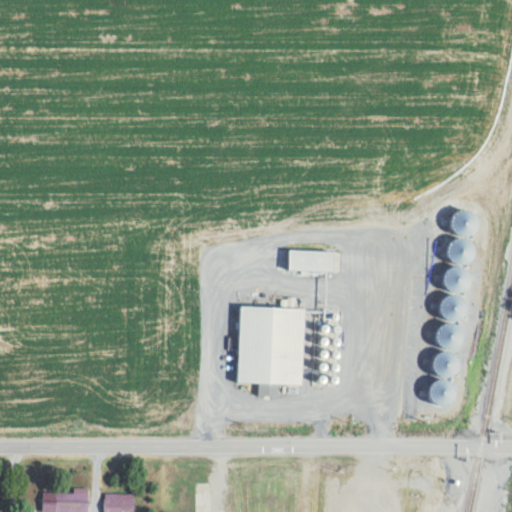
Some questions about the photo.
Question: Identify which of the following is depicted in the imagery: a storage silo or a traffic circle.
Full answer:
Visible in the photo is a storage silo.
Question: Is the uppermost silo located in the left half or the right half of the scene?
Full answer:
The uppermost silo is on the right side of the image.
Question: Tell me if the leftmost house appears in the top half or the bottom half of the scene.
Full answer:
It is in the bottom half that the leftmost house appears.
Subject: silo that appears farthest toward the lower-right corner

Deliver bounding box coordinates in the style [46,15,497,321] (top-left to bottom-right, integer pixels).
[430,378,458,407]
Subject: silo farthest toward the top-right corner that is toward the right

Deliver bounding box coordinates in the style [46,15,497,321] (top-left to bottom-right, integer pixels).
[452,208,480,238]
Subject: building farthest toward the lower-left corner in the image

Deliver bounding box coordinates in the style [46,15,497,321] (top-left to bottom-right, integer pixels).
[42,488,88,512]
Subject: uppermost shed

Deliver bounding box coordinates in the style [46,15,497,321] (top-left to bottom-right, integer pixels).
[288,250,340,272]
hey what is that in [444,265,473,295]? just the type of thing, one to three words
silo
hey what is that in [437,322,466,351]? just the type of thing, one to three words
silo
